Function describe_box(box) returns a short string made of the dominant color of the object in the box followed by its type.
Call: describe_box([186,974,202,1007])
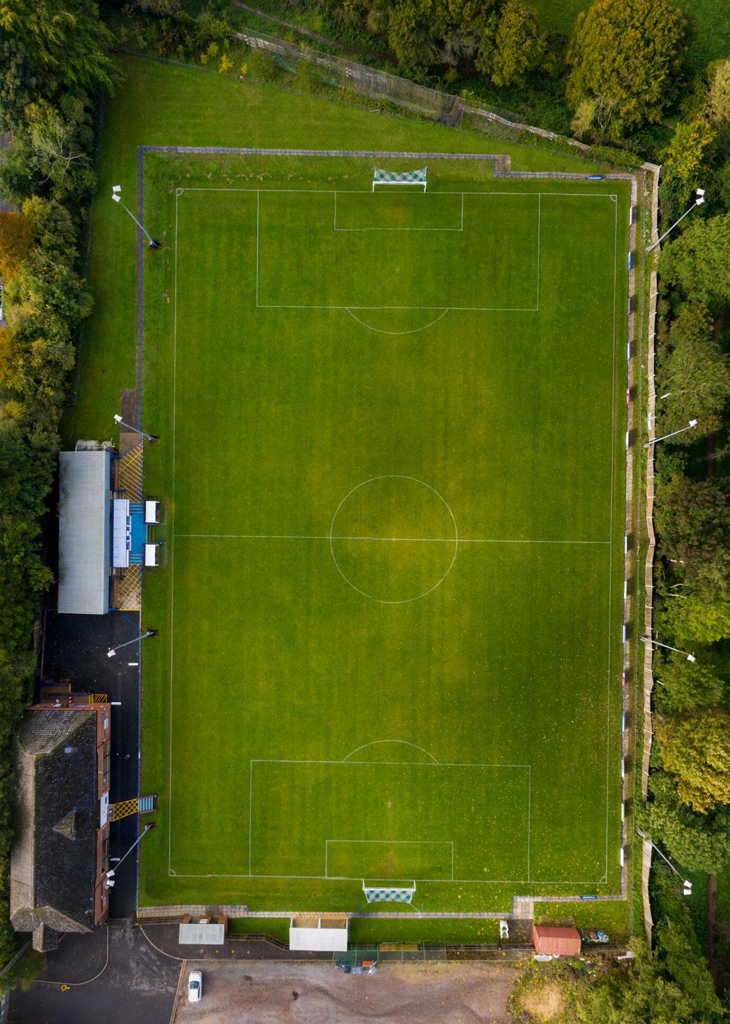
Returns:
white car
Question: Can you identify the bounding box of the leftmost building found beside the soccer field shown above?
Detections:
[9,701,114,952]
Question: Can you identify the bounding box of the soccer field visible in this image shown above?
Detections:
[164,187,622,888]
